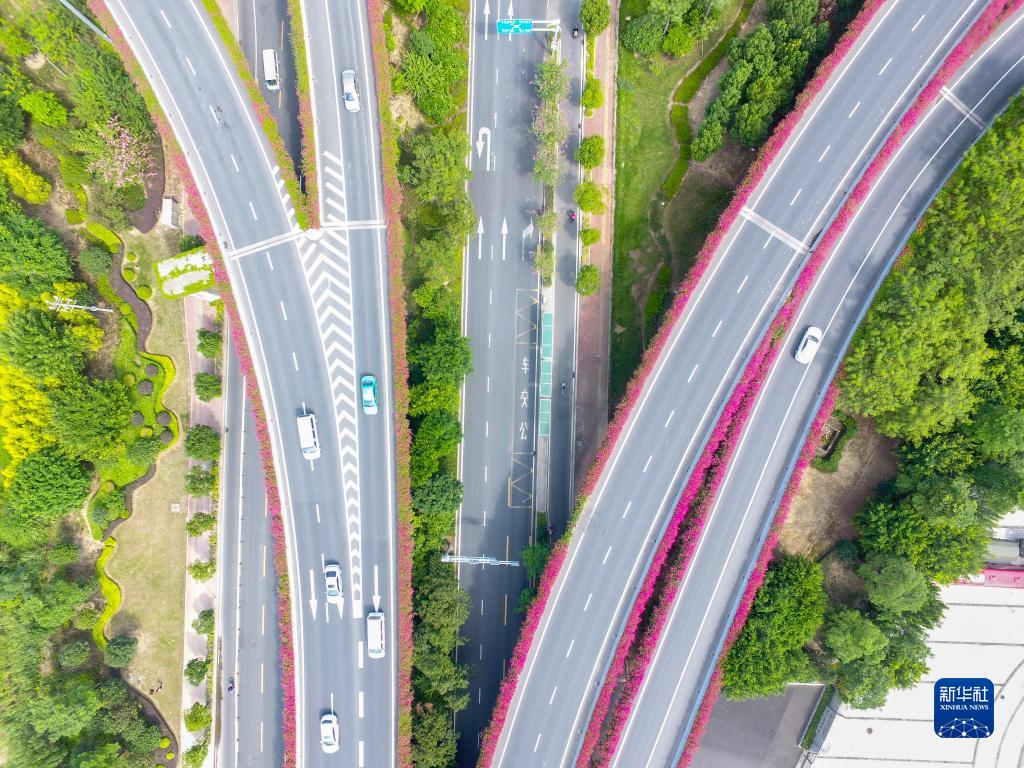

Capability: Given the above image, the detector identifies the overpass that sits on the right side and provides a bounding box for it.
[484,0,995,768]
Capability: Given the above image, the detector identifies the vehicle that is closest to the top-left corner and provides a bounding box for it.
[261,46,281,91]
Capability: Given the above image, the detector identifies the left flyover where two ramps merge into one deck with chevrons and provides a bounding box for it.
[101,0,407,768]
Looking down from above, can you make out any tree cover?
Yes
